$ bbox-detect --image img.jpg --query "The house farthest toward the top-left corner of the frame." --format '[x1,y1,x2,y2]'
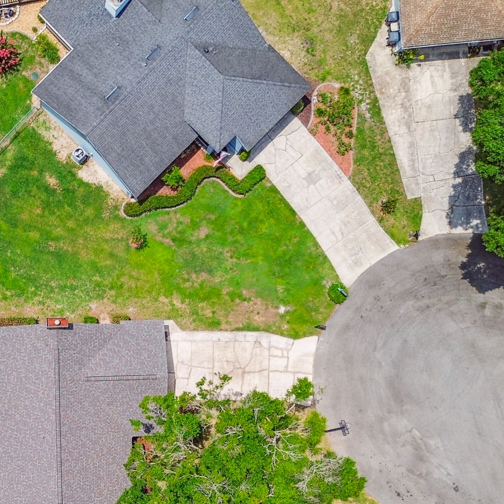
[21,0,310,200]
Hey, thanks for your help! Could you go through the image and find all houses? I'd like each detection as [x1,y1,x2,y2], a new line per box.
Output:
[0,317,168,504]
[390,0,504,58]
[21,0,310,200]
